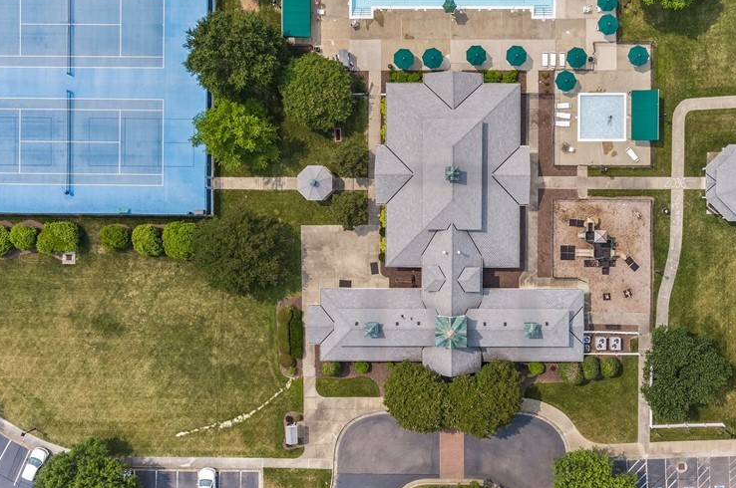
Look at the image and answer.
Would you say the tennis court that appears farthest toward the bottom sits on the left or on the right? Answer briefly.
left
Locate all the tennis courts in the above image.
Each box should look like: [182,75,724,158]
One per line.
[0,89,195,193]
[0,0,164,77]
